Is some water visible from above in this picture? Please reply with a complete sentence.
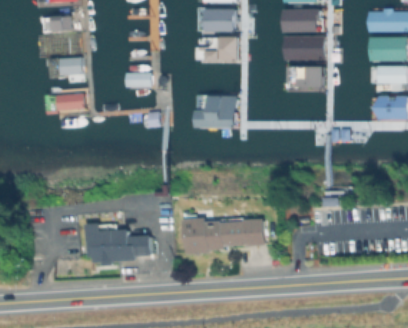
Yes, there's water in this view.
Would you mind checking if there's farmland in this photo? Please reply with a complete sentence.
No, the picture contains no farmland.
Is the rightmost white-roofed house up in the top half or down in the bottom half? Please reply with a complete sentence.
You can find the rightmost white-roofed house in the top half.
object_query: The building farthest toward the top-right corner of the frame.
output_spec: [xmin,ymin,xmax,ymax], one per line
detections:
[367,8,408,34]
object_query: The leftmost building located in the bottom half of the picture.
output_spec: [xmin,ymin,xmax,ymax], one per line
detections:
[86,224,158,268]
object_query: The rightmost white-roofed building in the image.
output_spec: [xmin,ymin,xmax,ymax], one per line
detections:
[370,66,408,94]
